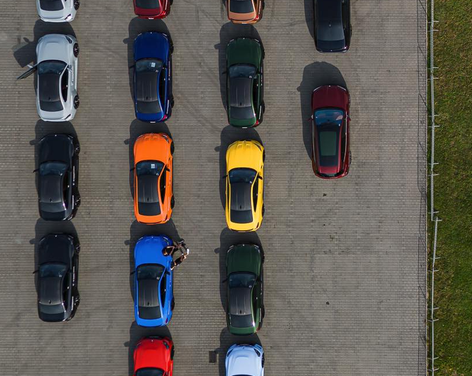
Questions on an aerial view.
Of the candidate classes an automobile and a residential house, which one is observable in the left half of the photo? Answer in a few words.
automobile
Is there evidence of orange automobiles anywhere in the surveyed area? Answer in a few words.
Yes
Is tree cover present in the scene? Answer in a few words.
No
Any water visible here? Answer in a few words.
No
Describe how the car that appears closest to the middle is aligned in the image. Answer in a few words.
vertically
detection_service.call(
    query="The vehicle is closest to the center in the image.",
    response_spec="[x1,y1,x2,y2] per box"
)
[221,140,266,232]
